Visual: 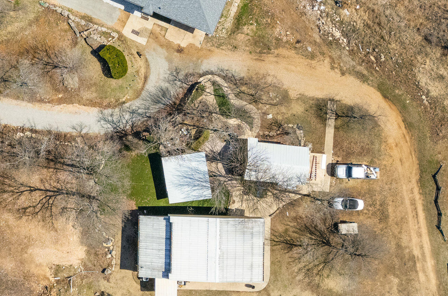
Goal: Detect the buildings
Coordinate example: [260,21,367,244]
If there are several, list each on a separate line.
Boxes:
[125,0,228,36]
[162,152,211,203]
[137,212,266,283]
[243,138,310,189]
